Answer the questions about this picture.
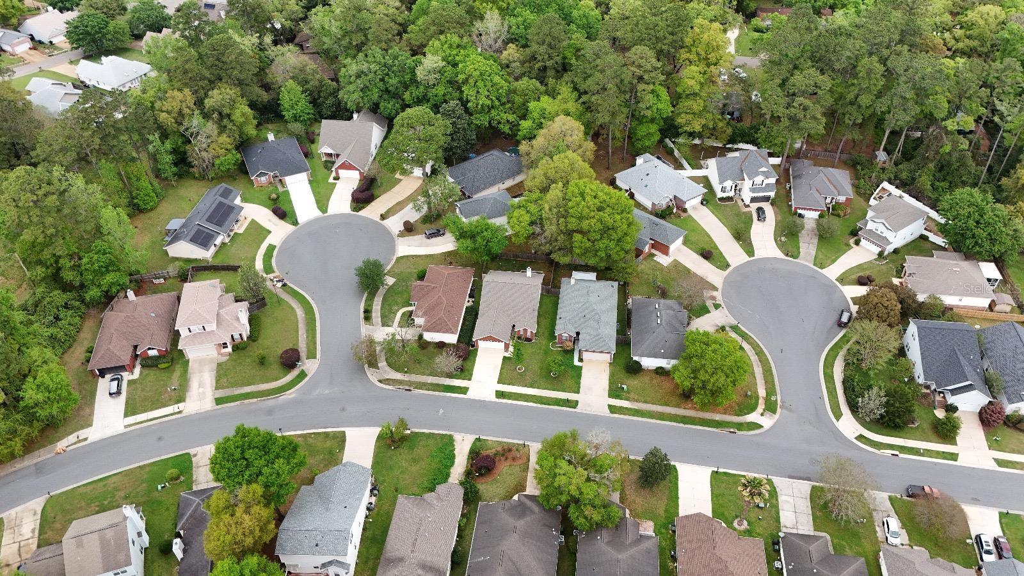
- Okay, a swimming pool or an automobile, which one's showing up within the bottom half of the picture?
automobile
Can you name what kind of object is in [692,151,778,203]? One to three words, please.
house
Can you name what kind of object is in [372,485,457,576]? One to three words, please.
house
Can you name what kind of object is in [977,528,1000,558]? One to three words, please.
car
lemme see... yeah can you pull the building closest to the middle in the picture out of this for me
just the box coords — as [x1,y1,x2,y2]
[473,265,547,352]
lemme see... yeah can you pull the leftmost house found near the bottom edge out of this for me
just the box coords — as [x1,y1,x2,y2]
[21,501,151,576]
